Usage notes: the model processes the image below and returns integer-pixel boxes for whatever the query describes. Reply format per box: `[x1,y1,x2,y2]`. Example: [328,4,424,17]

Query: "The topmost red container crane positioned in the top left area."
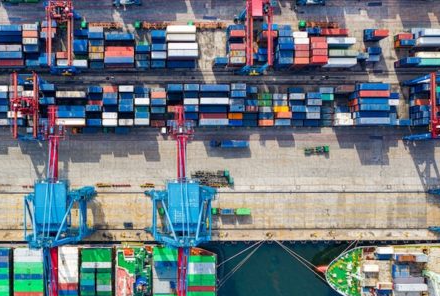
[44,0,80,79]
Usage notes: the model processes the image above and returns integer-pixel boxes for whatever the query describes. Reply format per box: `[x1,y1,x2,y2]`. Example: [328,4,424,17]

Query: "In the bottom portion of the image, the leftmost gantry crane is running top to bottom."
[20,103,100,296]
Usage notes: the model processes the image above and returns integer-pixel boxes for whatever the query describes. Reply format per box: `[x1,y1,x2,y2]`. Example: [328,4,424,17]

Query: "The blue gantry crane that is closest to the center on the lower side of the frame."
[140,103,221,296]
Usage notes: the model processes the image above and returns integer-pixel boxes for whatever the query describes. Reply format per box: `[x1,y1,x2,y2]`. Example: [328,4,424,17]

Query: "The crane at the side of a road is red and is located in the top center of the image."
[235,0,278,79]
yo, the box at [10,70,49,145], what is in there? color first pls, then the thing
red container crane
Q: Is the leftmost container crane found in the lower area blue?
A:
Yes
